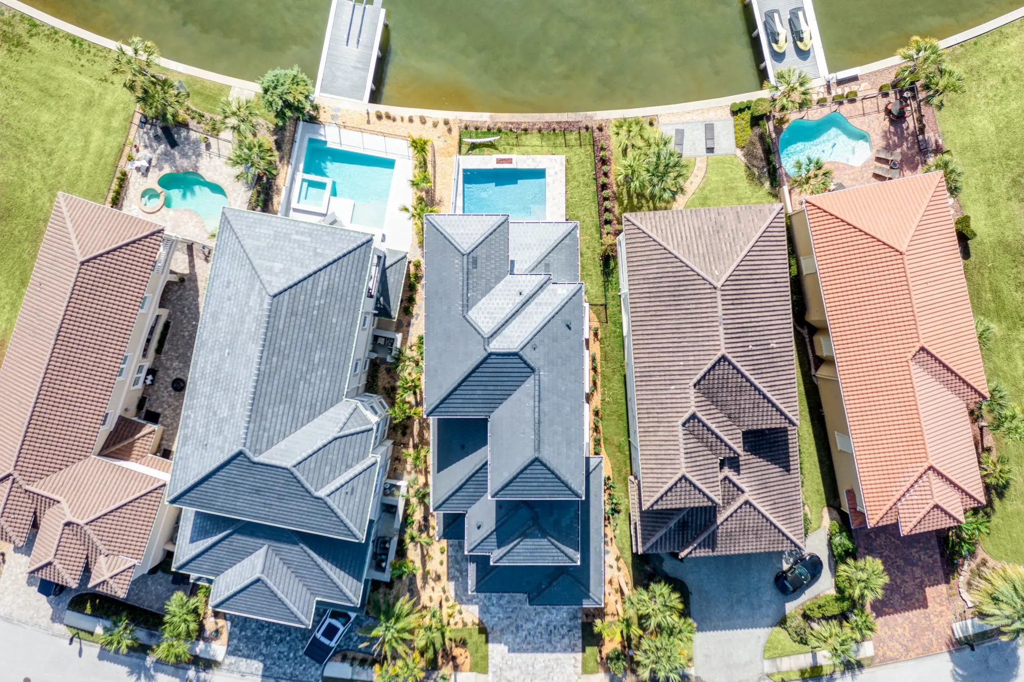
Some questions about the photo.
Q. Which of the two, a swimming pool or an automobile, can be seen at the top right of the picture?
swimming pool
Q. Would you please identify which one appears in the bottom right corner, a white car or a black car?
black car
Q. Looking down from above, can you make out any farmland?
No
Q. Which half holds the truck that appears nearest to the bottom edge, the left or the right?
left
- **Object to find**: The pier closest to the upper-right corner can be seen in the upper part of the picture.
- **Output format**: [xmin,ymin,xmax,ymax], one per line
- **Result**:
[741,0,829,85]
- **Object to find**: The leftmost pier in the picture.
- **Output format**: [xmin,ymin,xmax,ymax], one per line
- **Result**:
[315,0,391,105]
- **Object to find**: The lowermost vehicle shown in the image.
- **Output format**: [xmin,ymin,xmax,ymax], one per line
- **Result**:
[302,612,358,667]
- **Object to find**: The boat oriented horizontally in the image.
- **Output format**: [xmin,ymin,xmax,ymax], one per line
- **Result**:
[463,136,501,148]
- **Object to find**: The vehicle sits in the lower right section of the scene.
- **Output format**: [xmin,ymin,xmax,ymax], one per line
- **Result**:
[771,551,827,598]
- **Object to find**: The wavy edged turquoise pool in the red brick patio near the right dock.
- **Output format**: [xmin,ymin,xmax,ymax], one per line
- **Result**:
[778,110,874,179]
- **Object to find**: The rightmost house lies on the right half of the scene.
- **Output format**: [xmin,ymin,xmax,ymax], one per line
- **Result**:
[779,169,991,537]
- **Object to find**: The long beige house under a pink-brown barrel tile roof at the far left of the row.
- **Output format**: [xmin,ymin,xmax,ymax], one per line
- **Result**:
[0,191,201,600]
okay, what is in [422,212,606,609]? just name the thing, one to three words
house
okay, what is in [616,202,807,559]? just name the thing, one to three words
house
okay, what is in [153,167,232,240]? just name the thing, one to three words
swimming pool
